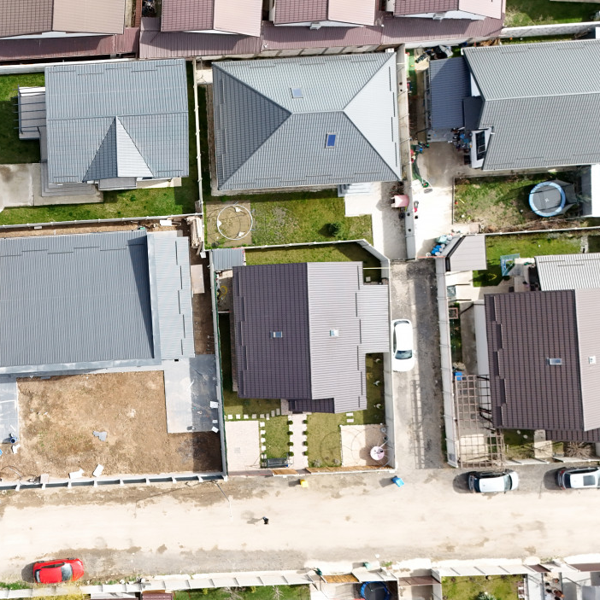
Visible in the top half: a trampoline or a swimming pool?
trampoline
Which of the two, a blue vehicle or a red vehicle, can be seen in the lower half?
red vehicle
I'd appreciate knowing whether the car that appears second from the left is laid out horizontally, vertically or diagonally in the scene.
vertically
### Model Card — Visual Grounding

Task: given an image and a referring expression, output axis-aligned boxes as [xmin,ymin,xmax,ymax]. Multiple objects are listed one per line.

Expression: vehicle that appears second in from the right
[466,469,517,496]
